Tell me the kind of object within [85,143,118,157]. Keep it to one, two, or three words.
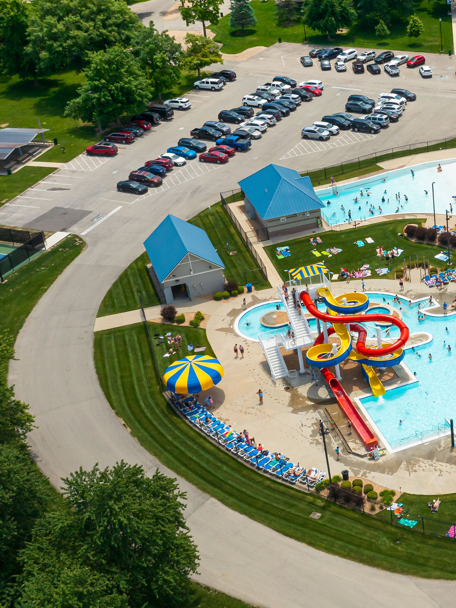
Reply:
car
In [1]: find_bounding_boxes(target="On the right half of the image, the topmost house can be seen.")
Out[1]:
[239,163,325,238]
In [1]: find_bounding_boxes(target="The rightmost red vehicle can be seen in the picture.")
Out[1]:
[405,54,427,68]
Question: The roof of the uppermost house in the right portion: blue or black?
blue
